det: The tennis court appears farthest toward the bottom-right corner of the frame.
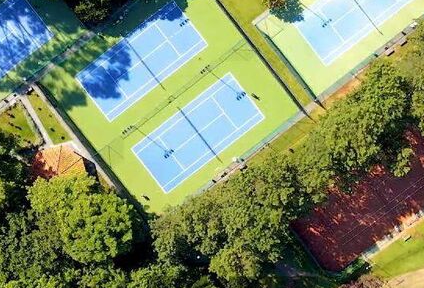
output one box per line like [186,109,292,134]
[282,107,424,272]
